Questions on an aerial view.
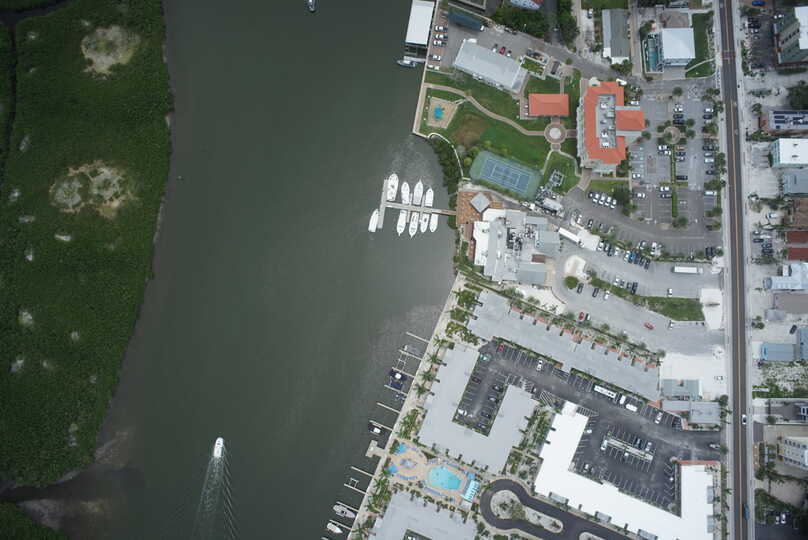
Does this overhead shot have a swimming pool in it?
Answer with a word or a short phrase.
Yes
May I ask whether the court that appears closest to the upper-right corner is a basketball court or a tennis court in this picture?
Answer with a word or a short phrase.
tennis court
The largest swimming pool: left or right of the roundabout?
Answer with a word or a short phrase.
on the left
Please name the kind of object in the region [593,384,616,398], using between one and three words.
vehicle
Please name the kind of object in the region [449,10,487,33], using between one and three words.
shed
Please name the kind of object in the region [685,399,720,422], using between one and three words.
building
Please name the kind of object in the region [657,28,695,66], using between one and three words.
house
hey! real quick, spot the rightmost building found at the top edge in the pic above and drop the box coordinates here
[763,6,808,69]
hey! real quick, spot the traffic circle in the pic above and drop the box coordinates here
[477,478,529,529]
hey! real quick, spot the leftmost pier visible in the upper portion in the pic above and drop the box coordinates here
[377,179,451,228]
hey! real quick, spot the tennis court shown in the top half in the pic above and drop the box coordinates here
[470,149,544,202]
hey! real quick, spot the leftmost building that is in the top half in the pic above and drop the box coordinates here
[404,0,434,62]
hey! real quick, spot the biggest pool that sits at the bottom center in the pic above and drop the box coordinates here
[427,463,462,491]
